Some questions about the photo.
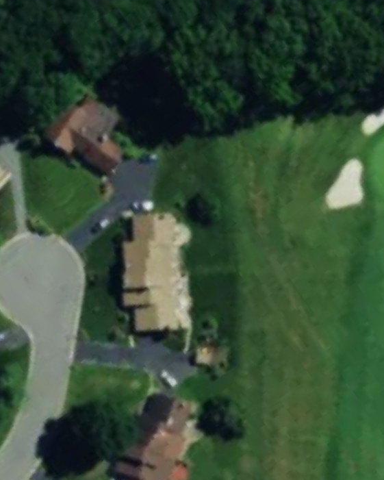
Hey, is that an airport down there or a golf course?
golf course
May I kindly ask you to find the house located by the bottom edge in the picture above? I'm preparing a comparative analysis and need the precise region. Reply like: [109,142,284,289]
[117,392,194,480]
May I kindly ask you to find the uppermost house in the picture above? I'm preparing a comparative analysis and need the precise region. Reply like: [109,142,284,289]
[45,90,125,173]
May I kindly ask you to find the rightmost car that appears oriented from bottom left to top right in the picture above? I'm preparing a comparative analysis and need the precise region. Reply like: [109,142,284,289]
[95,216,110,231]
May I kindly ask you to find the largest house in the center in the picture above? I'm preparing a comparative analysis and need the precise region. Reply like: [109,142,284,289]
[123,214,196,330]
